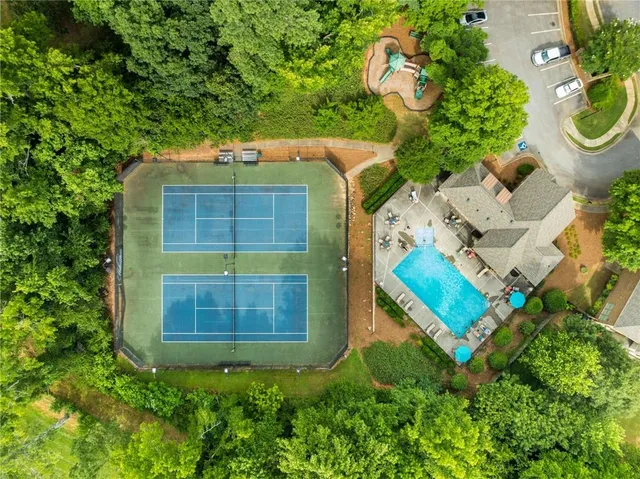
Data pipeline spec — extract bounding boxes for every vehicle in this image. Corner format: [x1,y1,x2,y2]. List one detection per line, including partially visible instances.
[458,11,486,26]
[553,78,584,99]
[530,44,570,66]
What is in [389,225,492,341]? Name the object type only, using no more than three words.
swimming pool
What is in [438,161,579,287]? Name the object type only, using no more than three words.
building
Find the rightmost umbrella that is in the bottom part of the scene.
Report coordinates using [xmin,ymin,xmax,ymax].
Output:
[509,291,525,307]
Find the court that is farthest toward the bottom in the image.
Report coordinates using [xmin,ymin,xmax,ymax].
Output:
[122,263,346,366]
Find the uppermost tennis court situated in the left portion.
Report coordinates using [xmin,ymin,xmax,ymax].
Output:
[122,163,346,263]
